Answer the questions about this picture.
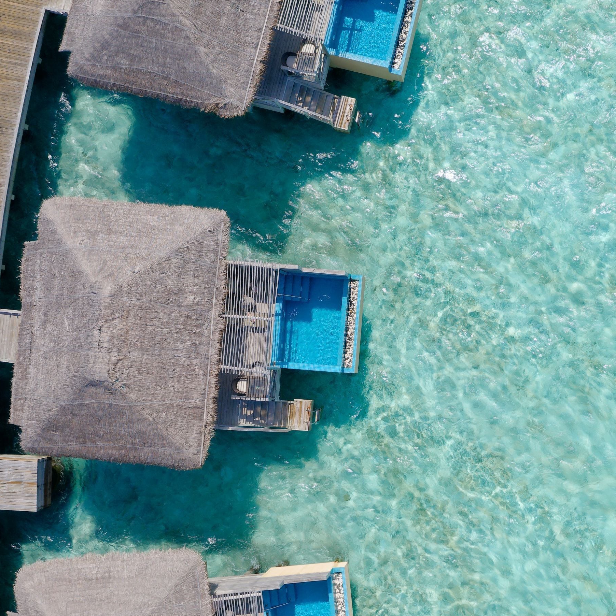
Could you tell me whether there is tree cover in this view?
No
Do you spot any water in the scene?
Yes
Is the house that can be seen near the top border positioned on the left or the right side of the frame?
left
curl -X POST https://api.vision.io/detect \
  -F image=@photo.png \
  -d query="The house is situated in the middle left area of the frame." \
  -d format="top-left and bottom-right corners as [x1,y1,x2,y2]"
[10,195,239,470]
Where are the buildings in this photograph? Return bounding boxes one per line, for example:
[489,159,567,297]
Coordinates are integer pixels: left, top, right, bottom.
[57,0,283,127]
[10,195,239,470]
[6,544,217,616]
